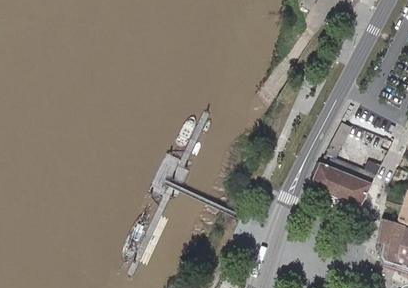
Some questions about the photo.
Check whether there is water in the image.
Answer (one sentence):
Yes, water shows up in the scene.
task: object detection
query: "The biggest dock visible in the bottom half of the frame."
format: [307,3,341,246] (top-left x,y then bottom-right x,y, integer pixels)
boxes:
[128,110,210,276]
